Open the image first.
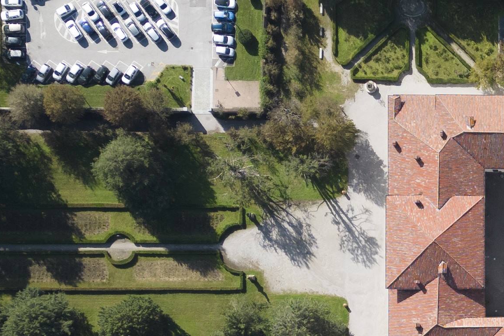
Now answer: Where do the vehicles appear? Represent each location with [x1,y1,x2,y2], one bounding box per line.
[66,61,84,84]
[52,60,69,83]
[20,61,39,85]
[93,63,111,86]
[2,22,25,33]
[141,0,159,21]
[211,8,237,21]
[55,1,78,17]
[155,0,173,18]
[81,0,99,24]
[1,0,23,8]
[36,61,54,84]
[212,0,237,9]
[211,33,236,45]
[78,14,95,37]
[112,21,128,43]
[97,0,116,23]
[121,61,140,87]
[78,62,97,87]
[4,47,27,59]
[211,21,237,33]
[65,18,83,40]
[111,0,127,18]
[106,64,123,87]
[128,0,146,23]
[211,47,236,57]
[93,17,112,41]
[156,17,176,42]
[142,19,161,44]
[2,34,25,47]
